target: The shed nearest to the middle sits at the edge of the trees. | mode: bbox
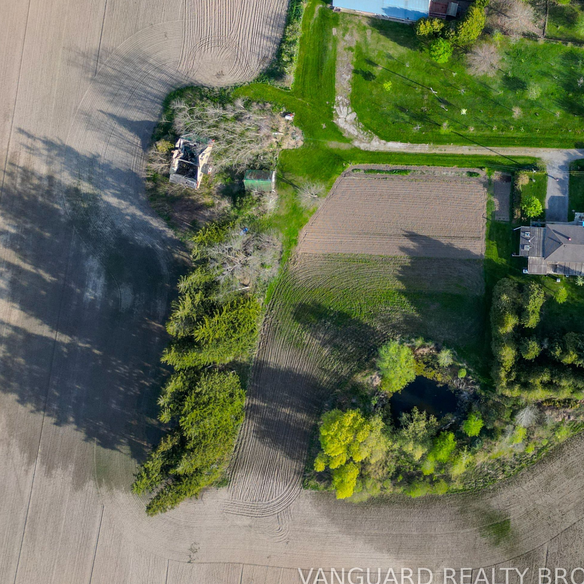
[244,169,277,192]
